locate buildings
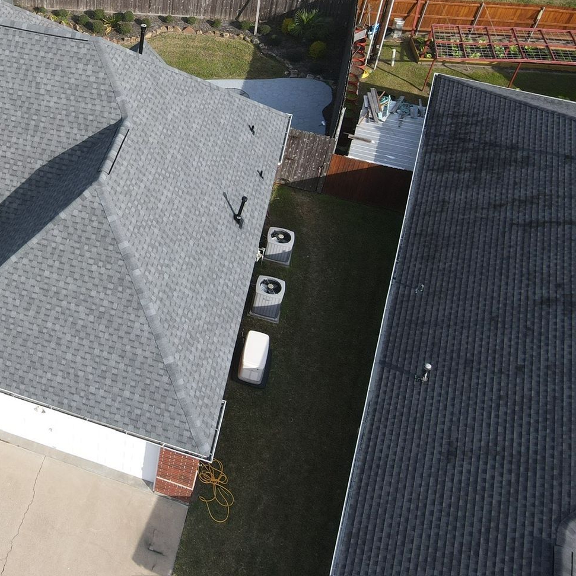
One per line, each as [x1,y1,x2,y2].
[0,0,294,506]
[325,76,576,576]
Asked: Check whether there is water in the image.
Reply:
No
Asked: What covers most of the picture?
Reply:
buildings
